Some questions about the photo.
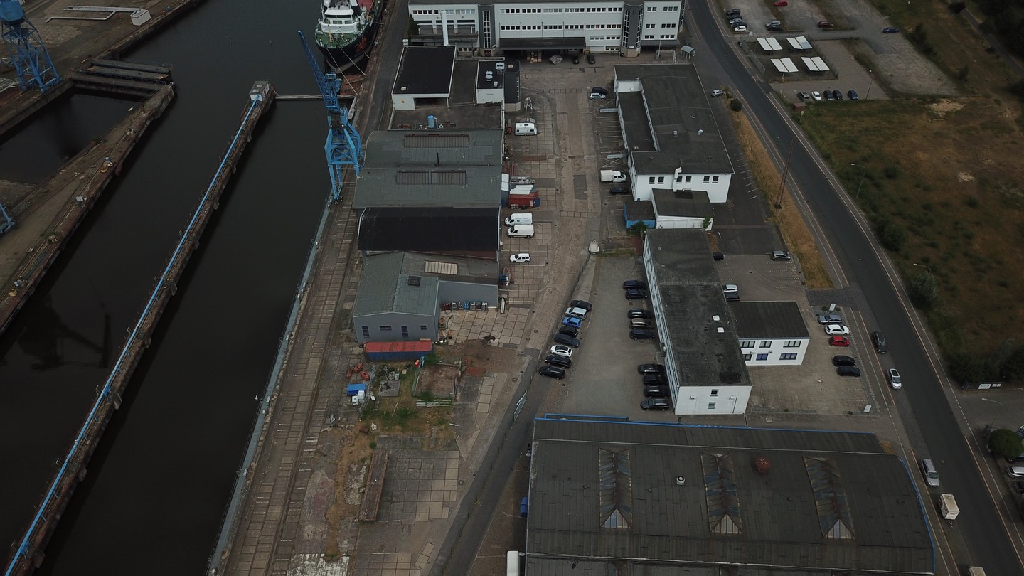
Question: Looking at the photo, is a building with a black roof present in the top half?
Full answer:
Yes, in the top half there is a building with a black roof.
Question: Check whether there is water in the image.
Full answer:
Yes, water can be seen from above here.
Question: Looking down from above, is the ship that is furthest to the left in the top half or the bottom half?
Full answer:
It is in the top half that the ship that is furthest to the left appears.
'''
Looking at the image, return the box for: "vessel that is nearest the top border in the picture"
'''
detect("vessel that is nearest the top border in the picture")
[315,0,385,71]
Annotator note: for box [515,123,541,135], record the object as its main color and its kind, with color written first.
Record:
white vehicle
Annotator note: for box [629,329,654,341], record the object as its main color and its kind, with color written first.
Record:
black vehicle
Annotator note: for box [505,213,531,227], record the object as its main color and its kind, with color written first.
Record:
white vehicle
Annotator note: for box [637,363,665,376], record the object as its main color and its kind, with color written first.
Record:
black vehicle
